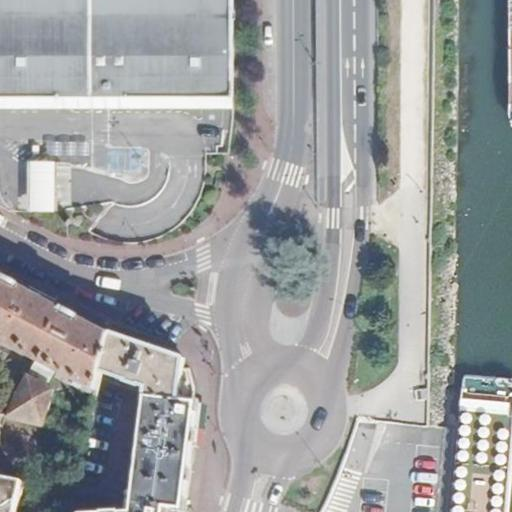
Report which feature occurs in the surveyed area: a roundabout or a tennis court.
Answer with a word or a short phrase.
roundabout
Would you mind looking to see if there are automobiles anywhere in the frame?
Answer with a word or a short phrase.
Yes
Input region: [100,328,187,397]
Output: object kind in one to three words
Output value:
building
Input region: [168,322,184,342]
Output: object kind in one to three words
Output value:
car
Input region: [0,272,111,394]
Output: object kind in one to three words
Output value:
house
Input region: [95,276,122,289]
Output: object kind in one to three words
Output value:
vehicle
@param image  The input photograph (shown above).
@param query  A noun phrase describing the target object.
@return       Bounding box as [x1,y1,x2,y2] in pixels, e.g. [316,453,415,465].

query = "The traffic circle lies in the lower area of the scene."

[221,347,346,479]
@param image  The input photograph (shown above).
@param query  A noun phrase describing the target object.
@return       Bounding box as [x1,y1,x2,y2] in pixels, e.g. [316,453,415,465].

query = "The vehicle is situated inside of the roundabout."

[312,406,326,430]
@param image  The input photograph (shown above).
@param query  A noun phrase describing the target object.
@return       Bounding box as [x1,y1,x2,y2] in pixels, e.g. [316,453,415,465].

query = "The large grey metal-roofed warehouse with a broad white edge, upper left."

[0,0,234,111]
